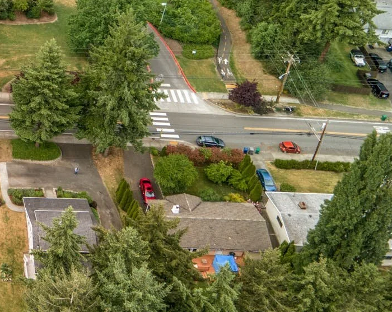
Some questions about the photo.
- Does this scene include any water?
No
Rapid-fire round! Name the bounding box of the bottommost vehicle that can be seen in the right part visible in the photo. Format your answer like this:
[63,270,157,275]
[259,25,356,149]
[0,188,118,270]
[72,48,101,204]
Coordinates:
[257,165,276,188]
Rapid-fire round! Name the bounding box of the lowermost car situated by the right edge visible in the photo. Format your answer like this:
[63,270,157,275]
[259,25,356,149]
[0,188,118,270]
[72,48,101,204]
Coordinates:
[370,76,392,95]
